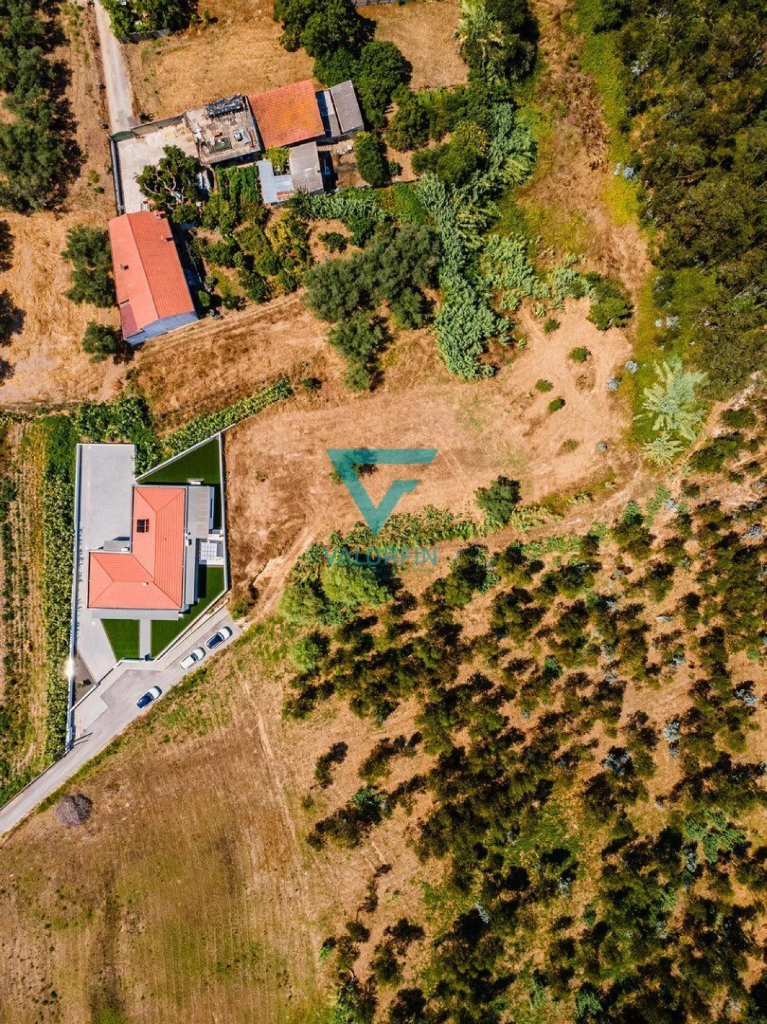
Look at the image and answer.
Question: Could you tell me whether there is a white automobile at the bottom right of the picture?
No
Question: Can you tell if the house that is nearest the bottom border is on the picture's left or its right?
left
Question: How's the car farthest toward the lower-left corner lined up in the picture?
at an angle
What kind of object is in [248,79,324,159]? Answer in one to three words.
building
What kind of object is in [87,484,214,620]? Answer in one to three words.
house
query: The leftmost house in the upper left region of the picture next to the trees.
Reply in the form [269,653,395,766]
[109,212,201,337]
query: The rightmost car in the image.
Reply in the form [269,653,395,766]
[320,157,335,186]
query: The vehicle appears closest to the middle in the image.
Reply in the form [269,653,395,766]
[206,626,232,649]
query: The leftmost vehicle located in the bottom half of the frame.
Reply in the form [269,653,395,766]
[135,686,163,708]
